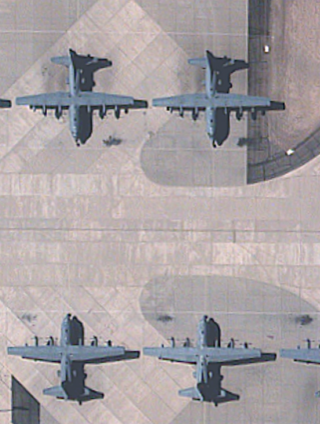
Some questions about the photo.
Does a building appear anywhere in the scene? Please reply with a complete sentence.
No, no building can be seen from above.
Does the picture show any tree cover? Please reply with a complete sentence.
No, the scene doesn't show any tree cover.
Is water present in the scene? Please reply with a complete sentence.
No, the scene doesn't show any water.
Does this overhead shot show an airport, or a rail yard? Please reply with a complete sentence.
The picture captures an airport.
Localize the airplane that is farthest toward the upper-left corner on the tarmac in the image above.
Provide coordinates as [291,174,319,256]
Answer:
[16,48,134,141]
